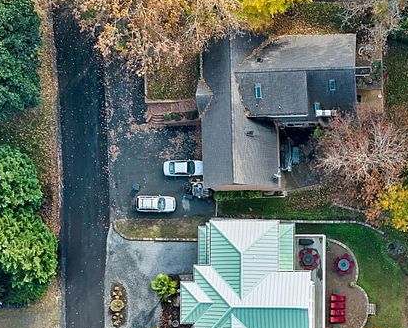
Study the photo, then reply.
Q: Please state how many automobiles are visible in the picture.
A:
2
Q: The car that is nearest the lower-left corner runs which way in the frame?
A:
from left to right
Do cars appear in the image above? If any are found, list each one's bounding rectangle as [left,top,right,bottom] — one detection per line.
[162,157,204,179]
[133,193,179,215]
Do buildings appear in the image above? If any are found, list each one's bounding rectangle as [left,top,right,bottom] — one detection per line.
[179,220,328,328]
[196,20,372,195]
